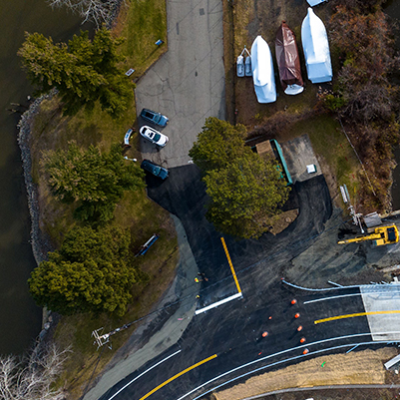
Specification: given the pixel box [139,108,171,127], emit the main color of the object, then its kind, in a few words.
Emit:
blue vehicle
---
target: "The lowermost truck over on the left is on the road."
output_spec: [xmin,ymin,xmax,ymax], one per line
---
[140,159,172,181]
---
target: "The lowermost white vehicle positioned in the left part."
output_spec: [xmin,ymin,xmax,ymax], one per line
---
[139,124,171,146]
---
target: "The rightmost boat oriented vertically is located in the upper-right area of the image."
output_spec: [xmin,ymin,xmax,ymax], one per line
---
[301,6,335,85]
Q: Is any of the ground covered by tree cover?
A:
Yes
